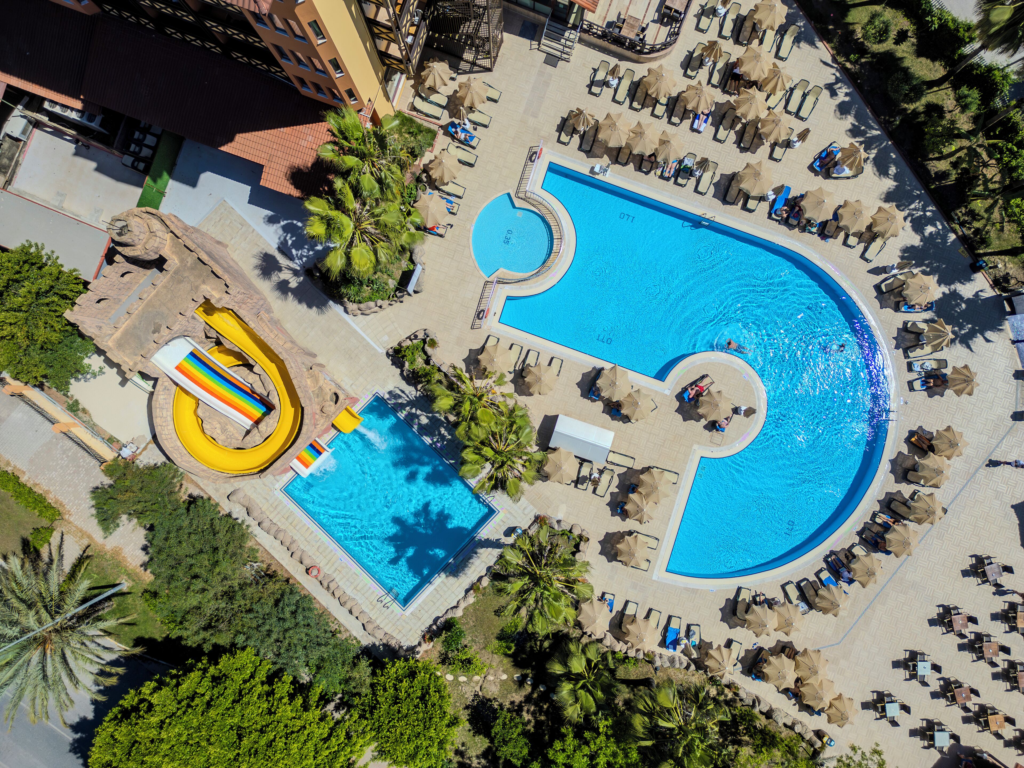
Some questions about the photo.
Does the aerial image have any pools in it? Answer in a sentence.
Yes, a pool is visible in the scene.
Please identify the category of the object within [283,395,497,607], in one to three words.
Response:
swimming pool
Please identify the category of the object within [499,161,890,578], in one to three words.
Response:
swimming pool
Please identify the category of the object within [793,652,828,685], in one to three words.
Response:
umbrella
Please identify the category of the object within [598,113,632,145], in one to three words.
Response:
umbrella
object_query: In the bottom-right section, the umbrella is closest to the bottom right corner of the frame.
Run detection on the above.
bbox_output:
[824,696,861,735]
